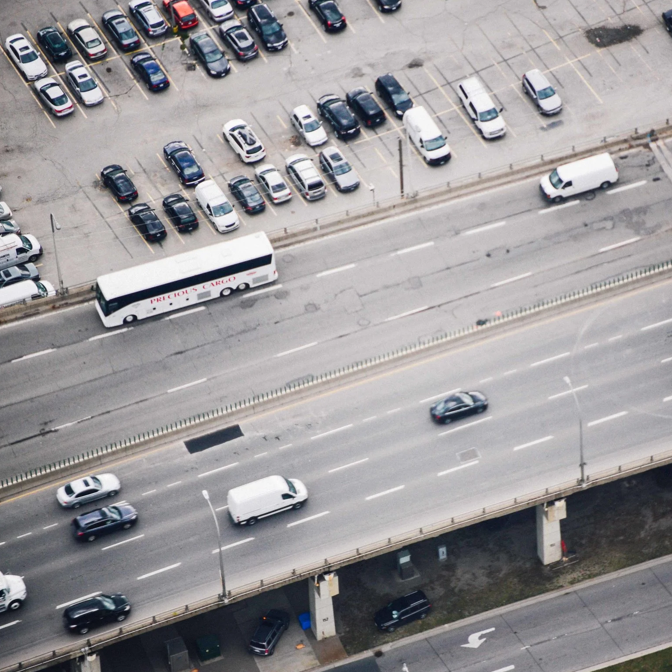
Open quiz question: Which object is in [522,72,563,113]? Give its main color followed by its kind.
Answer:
white car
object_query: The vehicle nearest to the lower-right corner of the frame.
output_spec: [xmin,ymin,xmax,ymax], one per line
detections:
[373,590,433,634]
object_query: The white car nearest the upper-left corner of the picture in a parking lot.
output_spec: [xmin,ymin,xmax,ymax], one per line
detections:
[6,34,47,79]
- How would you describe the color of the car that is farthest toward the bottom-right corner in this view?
black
